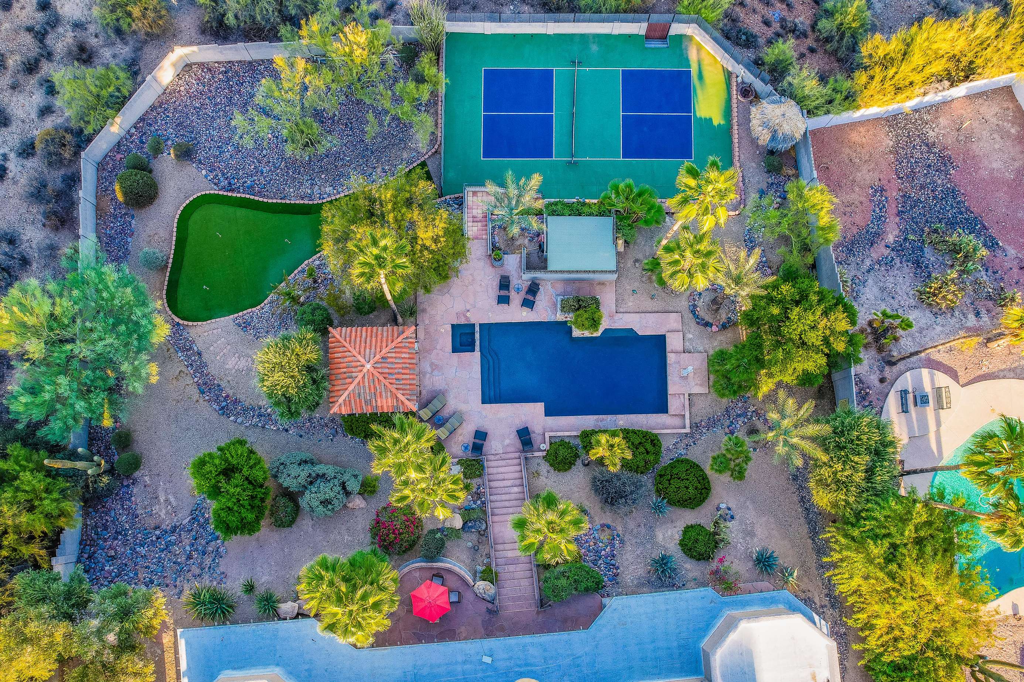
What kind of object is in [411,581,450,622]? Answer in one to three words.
umbrella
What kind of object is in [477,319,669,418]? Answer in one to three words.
swimming pool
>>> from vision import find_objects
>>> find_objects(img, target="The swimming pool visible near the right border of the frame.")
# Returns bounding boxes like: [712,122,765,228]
[927,410,1024,604]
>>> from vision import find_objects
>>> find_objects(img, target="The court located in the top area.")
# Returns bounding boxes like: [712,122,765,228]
[442,34,733,201]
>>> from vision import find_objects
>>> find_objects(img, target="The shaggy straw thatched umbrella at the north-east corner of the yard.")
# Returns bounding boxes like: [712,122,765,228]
[752,89,811,147]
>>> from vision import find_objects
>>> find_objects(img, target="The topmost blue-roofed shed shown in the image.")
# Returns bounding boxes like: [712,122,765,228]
[522,212,621,280]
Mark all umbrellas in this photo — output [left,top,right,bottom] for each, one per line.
[752,89,811,147]
[411,581,450,622]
